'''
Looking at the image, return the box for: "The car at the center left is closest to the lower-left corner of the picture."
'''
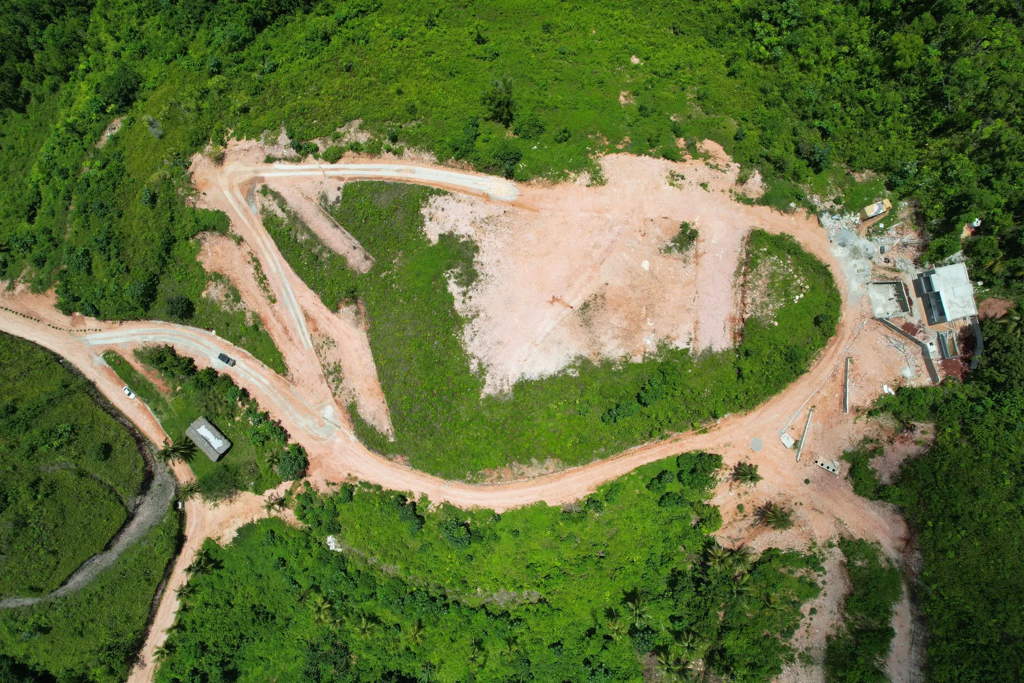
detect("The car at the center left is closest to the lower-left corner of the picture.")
[122,385,137,399]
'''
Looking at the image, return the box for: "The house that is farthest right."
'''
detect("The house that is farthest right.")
[912,263,978,323]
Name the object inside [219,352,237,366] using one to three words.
vehicle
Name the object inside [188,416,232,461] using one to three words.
shed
